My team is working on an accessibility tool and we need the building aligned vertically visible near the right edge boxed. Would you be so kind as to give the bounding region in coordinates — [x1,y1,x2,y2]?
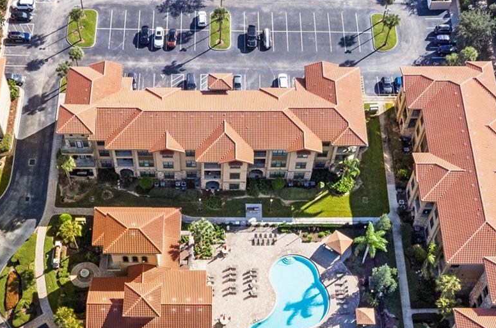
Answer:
[394,60,496,309]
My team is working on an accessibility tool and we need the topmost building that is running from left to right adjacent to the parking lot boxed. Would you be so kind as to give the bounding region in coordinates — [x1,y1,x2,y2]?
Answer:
[56,59,368,190]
